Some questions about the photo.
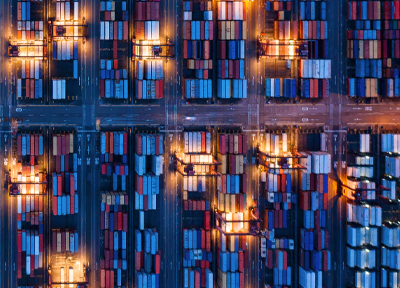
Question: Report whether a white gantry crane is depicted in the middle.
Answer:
No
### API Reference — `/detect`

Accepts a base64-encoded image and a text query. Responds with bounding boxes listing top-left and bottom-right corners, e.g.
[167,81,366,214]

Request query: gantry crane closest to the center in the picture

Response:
[173,156,220,176]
